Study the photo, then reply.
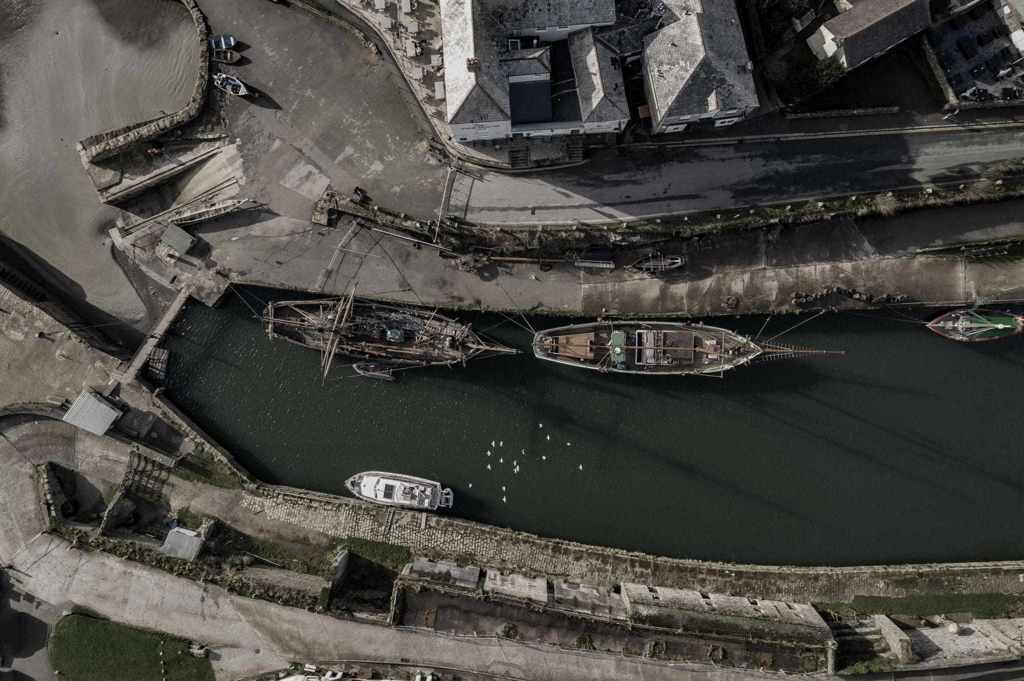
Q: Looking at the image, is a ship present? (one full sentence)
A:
Yes, a ship can be made out from above.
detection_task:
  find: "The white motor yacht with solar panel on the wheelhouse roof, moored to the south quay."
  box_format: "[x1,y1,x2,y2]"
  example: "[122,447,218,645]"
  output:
[344,471,450,512]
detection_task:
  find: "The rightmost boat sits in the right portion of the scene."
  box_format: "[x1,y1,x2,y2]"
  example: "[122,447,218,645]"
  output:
[917,308,1024,342]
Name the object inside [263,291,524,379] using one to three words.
ship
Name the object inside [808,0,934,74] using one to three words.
house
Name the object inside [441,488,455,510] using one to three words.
boat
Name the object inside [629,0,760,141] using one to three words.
house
